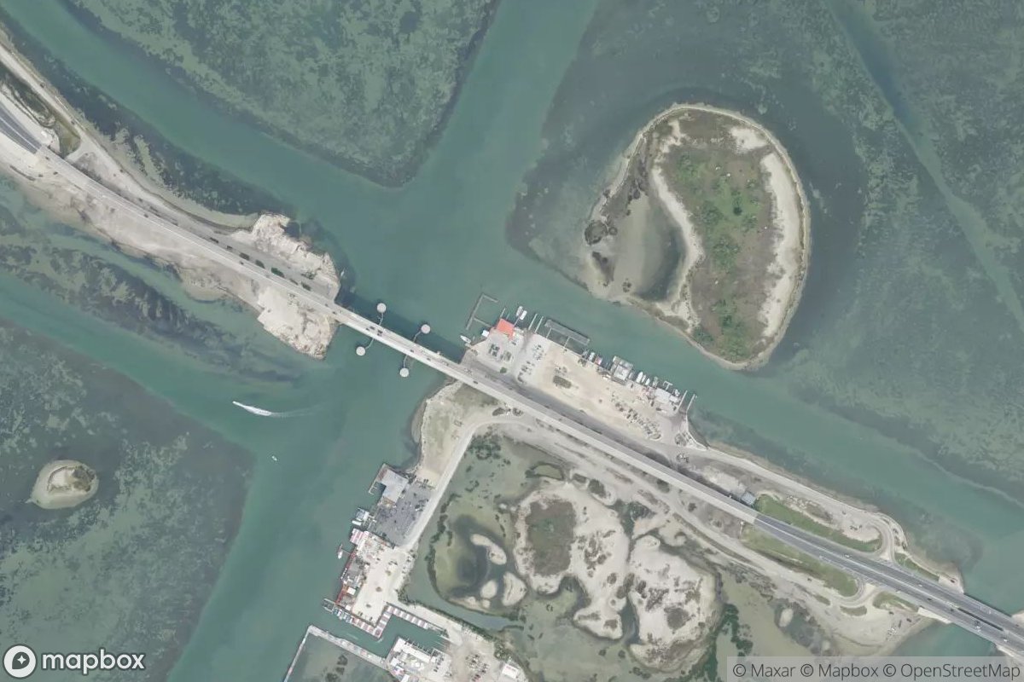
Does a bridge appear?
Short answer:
Yes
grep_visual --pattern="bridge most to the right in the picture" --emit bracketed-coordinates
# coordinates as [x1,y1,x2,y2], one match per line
[918,588,1024,663]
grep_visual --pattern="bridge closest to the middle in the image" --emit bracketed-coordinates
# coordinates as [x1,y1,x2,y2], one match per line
[35,145,758,525]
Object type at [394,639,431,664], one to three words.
house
